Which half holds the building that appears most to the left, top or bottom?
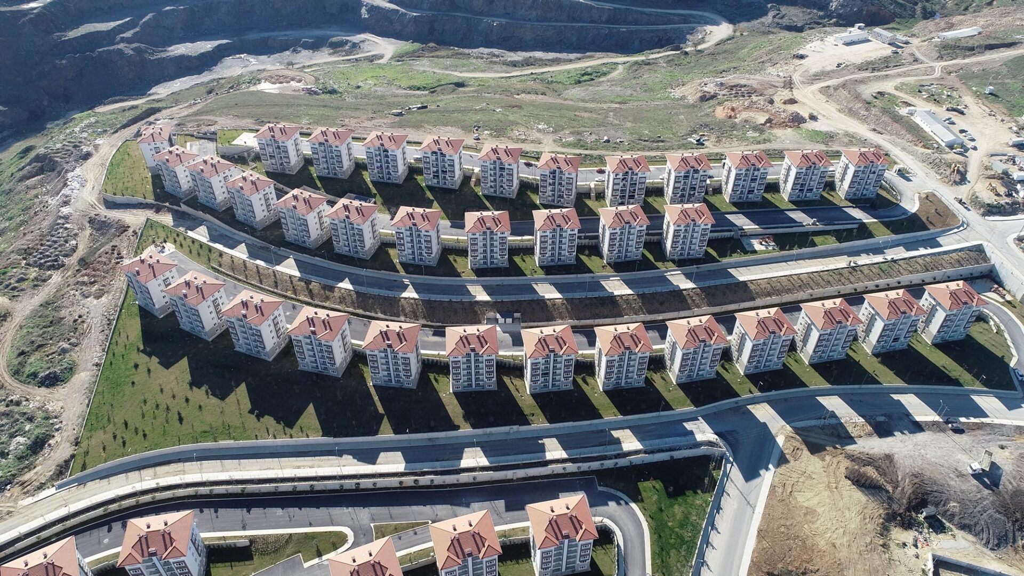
bottom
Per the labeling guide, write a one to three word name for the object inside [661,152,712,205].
building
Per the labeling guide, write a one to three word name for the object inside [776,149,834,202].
building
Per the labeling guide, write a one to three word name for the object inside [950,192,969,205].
vehicle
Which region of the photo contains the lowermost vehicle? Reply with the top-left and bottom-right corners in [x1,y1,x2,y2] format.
[965,455,1005,477]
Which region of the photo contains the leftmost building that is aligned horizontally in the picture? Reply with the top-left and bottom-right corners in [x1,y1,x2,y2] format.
[2,535,98,576]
